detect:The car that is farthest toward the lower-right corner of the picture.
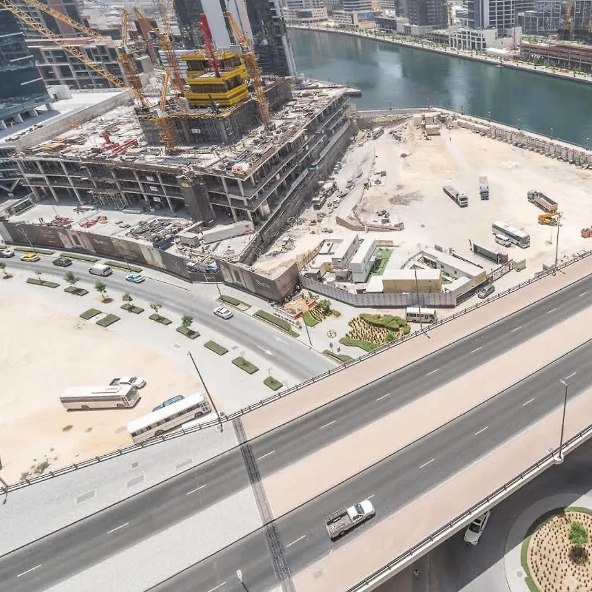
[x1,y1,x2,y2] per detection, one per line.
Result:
[465,510,491,543]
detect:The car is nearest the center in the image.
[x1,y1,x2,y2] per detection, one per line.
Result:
[213,306,232,319]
